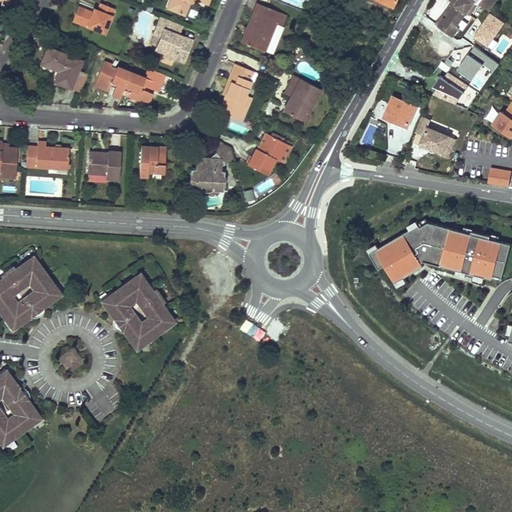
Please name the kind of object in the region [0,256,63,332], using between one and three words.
building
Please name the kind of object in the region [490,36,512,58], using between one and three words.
swimming pool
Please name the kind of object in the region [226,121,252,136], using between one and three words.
swimming pool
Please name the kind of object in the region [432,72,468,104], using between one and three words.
house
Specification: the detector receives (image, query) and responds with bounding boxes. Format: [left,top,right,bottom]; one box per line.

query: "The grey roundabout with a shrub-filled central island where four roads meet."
[236,214,323,308]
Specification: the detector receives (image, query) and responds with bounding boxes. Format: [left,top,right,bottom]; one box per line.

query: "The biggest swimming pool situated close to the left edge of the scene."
[25,176,64,198]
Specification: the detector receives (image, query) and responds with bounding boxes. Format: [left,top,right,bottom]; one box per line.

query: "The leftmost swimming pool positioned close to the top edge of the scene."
[132,10,156,46]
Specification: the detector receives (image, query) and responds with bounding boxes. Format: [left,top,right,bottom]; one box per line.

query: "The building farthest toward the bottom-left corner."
[0,370,43,450]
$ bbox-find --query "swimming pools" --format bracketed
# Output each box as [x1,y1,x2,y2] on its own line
[254,175,278,200]
[490,36,512,58]
[25,176,64,198]
[282,0,304,8]
[296,60,321,82]
[360,122,379,144]
[206,193,225,210]
[226,121,252,136]
[1,184,18,194]
[132,10,156,46]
